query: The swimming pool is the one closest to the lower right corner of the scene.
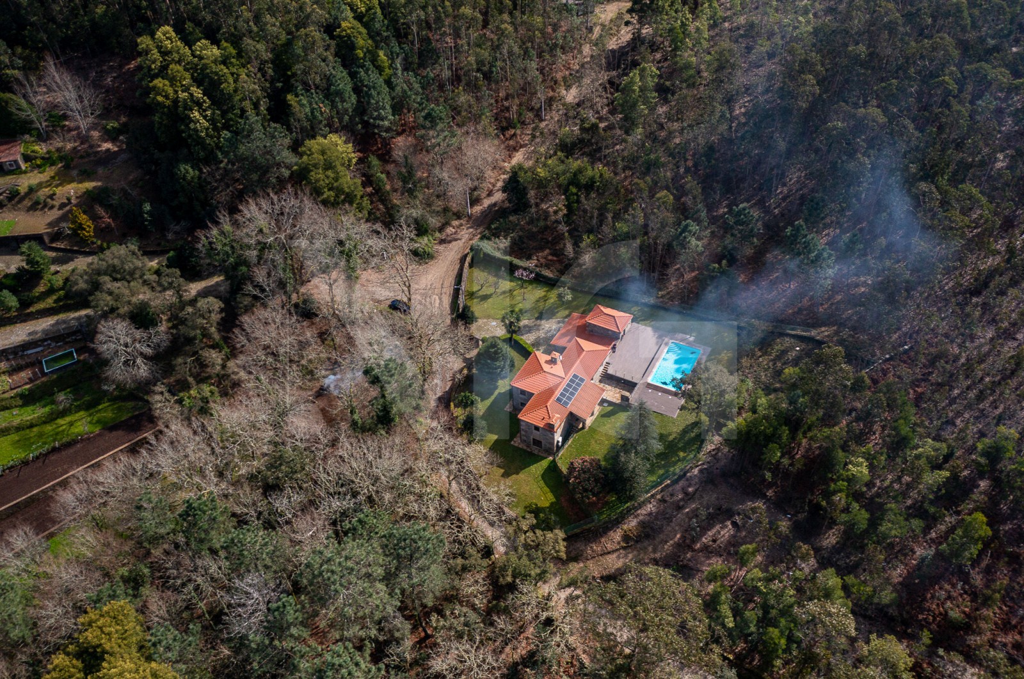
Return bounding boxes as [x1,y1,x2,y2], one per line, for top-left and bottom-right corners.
[646,339,702,397]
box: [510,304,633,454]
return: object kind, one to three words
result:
house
